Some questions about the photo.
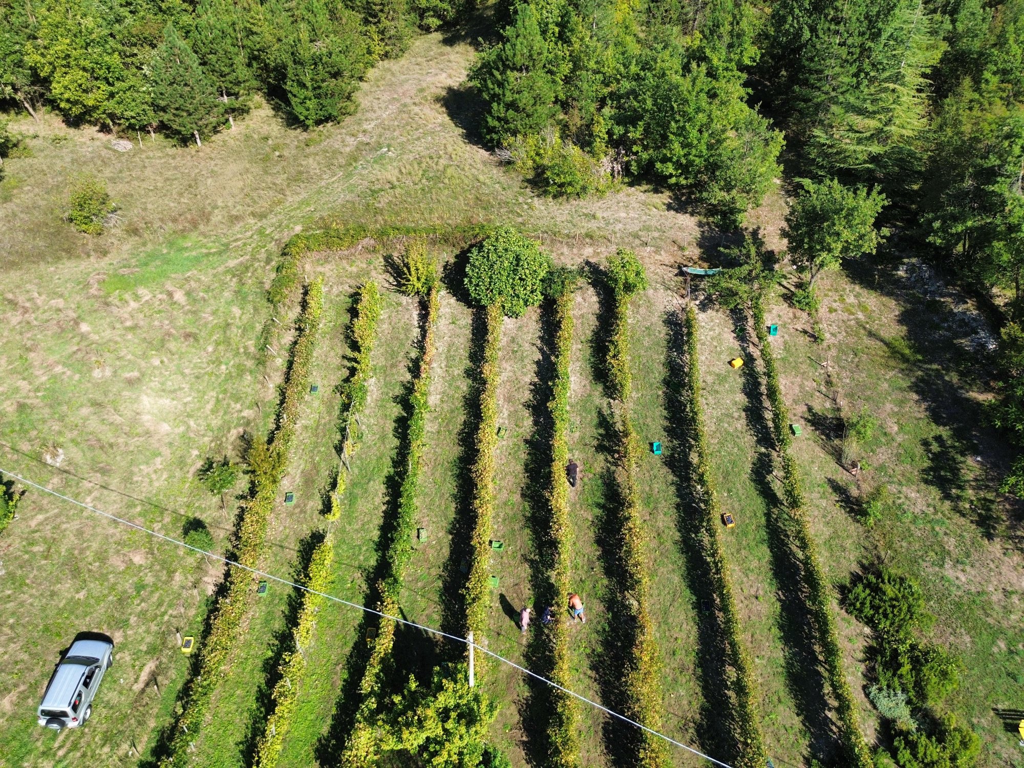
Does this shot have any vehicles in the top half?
No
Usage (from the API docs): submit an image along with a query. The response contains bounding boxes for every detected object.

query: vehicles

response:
[33,643,112,733]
